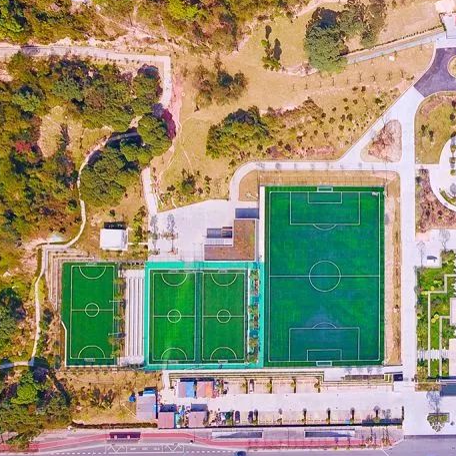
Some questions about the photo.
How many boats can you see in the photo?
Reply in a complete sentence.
No boats are visible.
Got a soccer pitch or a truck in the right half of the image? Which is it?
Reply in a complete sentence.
Visible in the right half of the image is a soccer pitch.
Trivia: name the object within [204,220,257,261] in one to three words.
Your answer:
building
